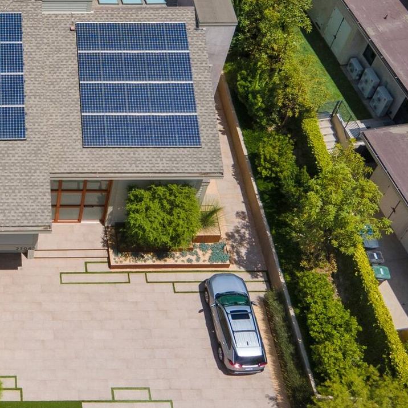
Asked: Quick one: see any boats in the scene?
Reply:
No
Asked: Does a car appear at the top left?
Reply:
No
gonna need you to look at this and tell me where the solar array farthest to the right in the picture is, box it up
[77,22,201,147]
